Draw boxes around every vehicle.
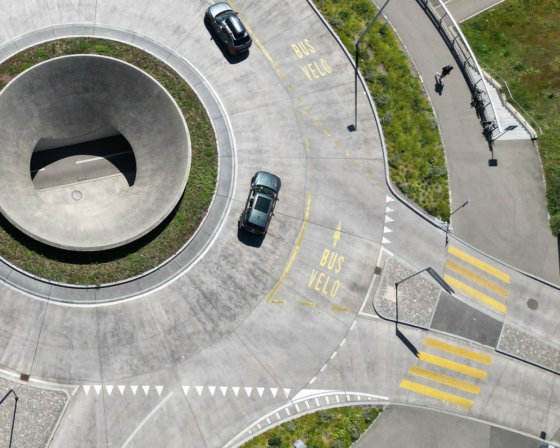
[208,3,251,54]
[240,173,279,234]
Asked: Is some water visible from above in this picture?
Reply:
No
